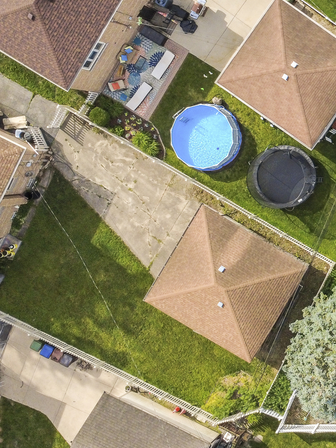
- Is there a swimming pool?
Yes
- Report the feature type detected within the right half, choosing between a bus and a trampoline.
trampoline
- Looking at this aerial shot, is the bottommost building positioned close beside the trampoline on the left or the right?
right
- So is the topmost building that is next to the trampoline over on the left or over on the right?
right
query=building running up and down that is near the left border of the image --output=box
[0,123,55,253]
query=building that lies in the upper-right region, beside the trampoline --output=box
[214,0,336,151]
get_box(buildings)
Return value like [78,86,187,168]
[0,123,55,253]
[141,202,313,365]
[214,0,336,151]
[0,0,153,92]
[64,384,224,448]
